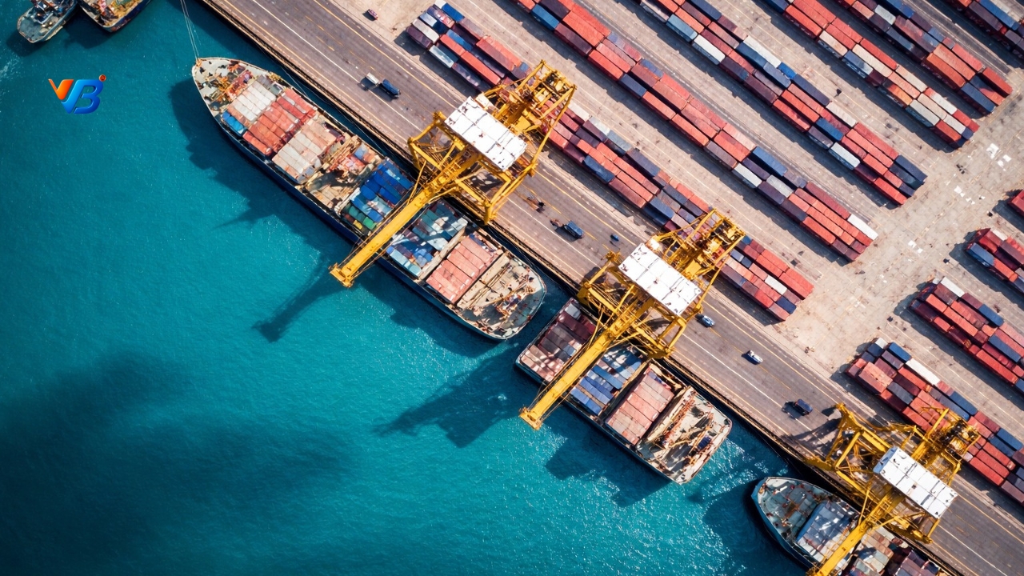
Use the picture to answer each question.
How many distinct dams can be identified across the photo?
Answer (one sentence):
The picture shows no dams.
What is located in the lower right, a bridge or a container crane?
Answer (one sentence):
The one visible in the lower right is a container crane.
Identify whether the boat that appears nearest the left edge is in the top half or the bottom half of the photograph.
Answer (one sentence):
The boat that appears nearest the left edge sits in the top half of the picture.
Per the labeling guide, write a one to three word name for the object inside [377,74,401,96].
truck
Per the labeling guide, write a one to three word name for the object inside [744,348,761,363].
car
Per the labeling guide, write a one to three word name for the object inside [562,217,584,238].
truck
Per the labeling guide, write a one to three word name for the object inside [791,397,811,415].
vehicle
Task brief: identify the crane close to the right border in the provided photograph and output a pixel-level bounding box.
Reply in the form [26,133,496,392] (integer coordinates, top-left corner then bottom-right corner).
[794,394,982,576]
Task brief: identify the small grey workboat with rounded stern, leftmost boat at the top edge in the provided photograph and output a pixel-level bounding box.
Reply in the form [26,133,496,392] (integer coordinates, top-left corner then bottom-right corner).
[18,0,86,48]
